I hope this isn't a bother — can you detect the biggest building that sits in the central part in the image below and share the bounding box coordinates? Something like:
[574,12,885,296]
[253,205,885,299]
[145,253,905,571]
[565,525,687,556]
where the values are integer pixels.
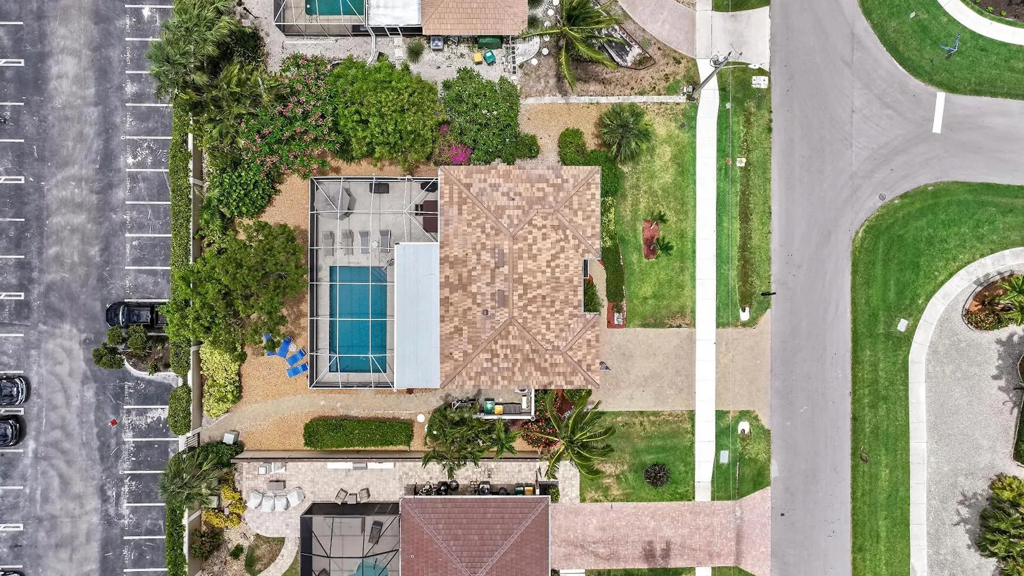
[437,164,602,391]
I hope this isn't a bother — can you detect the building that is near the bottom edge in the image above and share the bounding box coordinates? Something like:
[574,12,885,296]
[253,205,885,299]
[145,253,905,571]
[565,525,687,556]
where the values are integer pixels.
[399,492,551,576]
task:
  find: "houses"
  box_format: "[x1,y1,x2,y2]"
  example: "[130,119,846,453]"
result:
[421,0,528,42]
[399,492,551,576]
[437,164,602,391]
